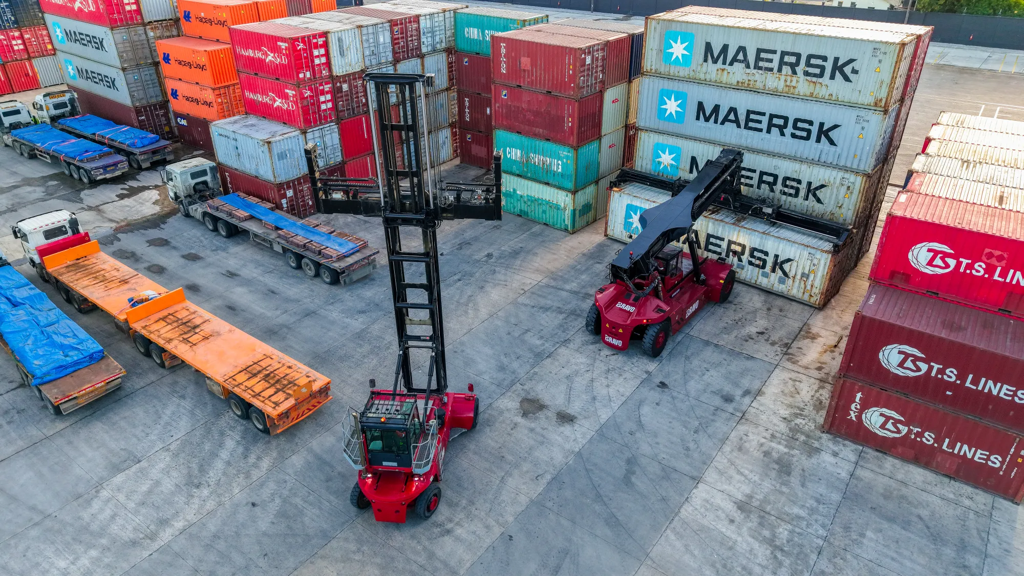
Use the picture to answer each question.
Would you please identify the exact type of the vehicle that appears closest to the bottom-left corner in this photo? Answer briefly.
truck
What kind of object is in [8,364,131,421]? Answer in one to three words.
truck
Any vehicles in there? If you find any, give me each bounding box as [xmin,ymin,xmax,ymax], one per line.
[6,207,332,441]
[8,364,131,421]
[307,72,508,524]
[0,97,133,184]
[157,160,382,286]
[582,148,861,360]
